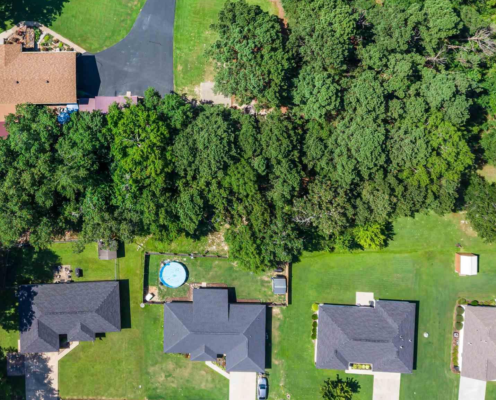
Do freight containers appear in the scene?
No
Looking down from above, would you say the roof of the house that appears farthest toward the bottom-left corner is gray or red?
gray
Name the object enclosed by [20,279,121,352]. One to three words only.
house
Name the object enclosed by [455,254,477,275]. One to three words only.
shed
